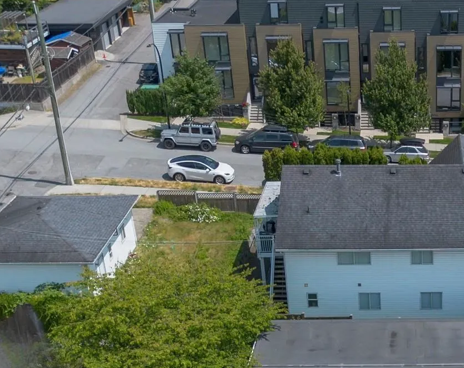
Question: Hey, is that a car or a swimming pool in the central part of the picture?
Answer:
car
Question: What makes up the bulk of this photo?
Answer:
buildings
